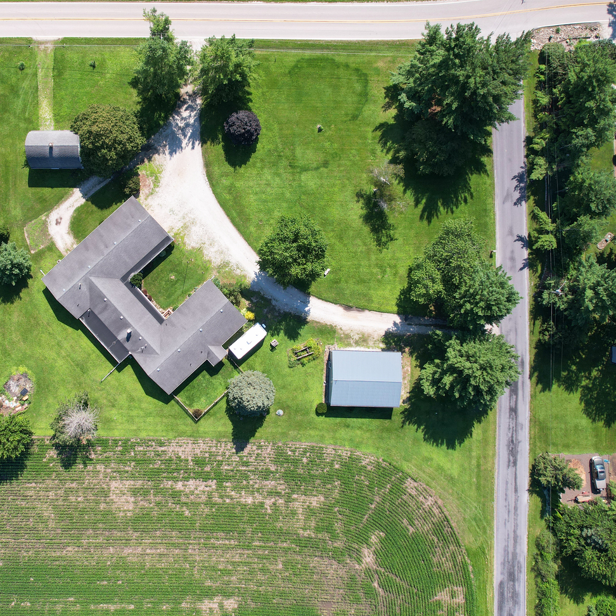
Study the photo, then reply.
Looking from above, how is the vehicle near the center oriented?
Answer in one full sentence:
The vehicle near the center is oriented on a diagonal.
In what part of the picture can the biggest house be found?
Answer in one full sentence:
The biggest house is located in the left region of the scene.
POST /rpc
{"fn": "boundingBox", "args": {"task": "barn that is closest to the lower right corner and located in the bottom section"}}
[330,350,402,407]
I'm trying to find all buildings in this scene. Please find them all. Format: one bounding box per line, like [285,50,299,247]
[40,195,249,395]
[330,350,402,407]
[24,130,82,170]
